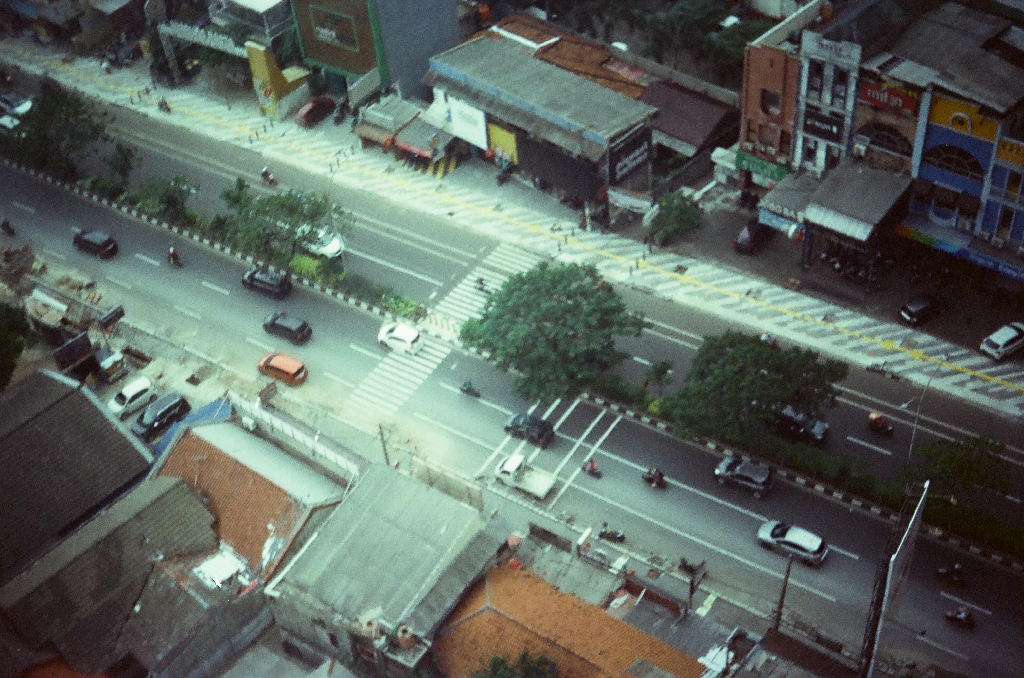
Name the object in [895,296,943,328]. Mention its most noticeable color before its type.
black car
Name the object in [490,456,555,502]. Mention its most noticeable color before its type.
white truck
